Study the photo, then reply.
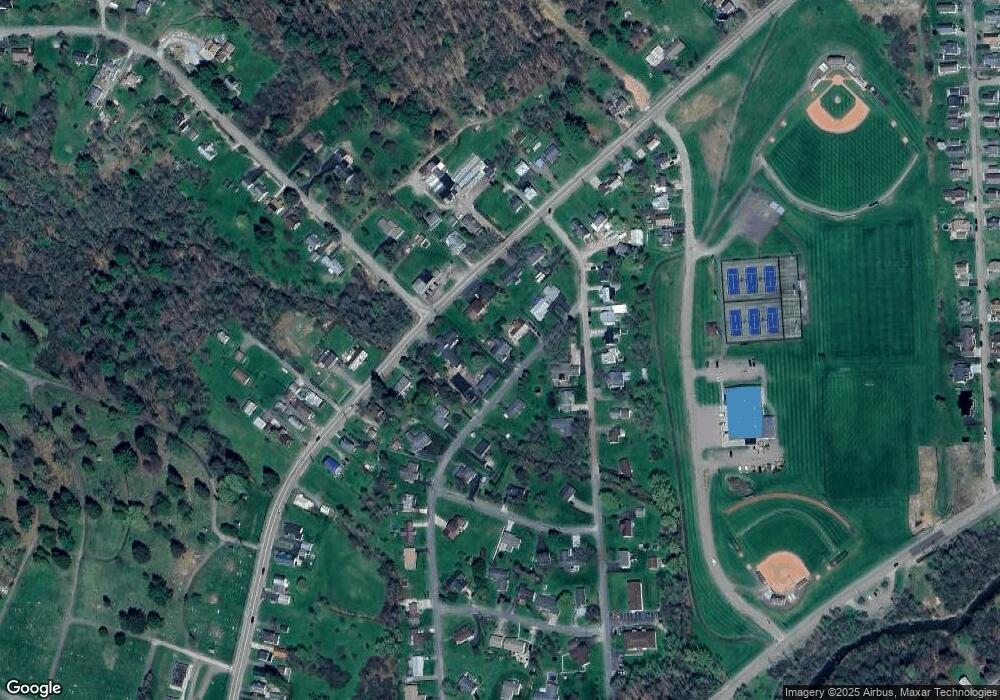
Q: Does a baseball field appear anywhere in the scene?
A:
Yes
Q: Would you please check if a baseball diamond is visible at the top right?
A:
Yes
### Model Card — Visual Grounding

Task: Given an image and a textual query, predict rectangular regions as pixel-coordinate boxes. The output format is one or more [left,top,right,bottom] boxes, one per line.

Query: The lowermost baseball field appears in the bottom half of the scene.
[722,492,852,592]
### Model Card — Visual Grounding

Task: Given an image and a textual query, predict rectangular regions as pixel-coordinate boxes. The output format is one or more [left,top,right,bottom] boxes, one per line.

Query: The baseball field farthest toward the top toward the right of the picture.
[759,65,920,219]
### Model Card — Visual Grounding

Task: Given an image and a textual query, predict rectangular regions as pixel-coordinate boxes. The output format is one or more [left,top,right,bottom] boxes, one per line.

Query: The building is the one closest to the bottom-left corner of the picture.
[171,659,191,688]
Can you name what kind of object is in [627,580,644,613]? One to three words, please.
building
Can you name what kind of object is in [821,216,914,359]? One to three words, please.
sports field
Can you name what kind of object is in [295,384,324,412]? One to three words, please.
house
